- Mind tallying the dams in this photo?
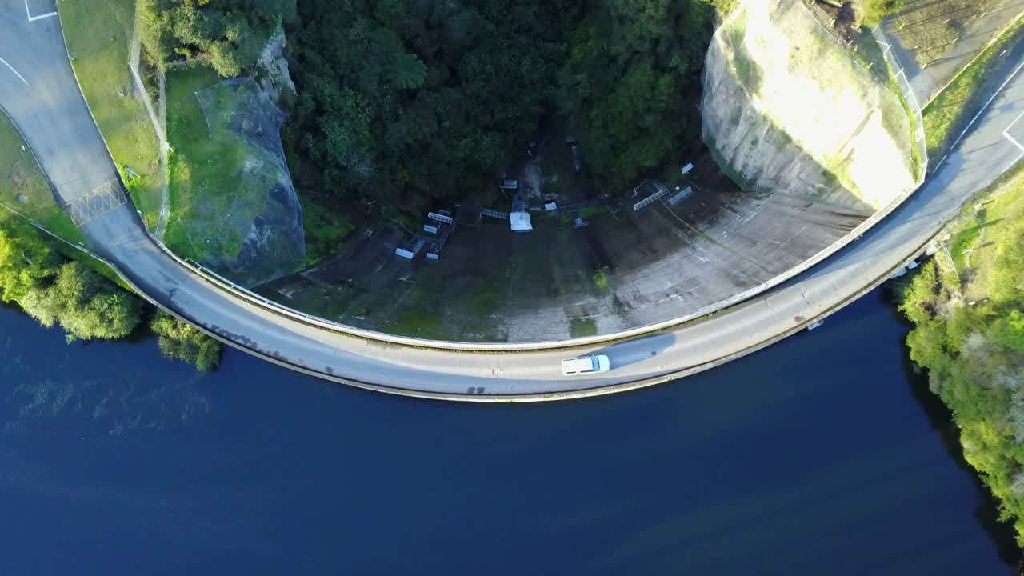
1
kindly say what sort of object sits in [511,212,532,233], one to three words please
shed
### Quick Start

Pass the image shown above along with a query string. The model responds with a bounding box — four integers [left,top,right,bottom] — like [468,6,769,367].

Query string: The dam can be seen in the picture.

[105,182,946,402]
